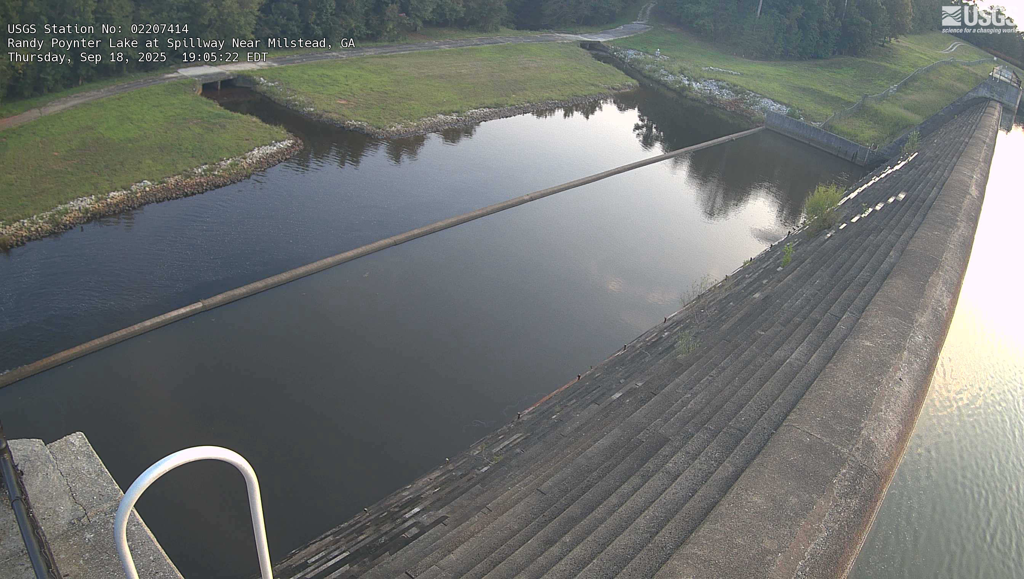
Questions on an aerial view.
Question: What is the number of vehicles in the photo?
0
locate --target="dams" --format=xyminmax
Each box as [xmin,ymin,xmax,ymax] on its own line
[0,125,767,382]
